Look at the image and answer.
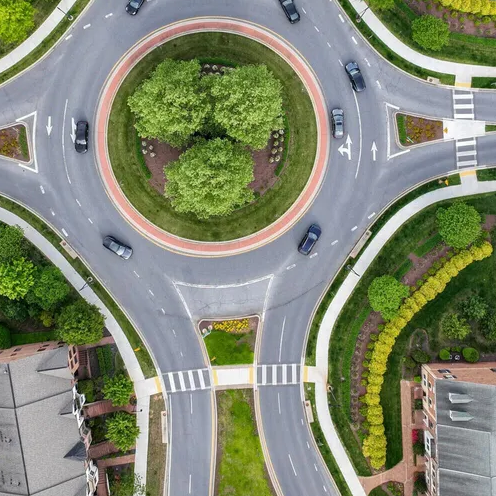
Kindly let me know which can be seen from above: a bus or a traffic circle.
traffic circle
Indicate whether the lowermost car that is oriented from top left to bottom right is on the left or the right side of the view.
left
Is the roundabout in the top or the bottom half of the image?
top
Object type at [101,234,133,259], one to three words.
car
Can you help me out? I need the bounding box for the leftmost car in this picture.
[73,119,90,153]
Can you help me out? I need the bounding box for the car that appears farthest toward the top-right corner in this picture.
[343,60,366,92]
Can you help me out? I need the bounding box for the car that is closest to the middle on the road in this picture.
[298,222,321,256]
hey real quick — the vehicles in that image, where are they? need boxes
[101,234,133,259]
[330,107,345,139]
[126,0,144,17]
[279,0,299,25]
[298,222,321,256]
[73,119,90,153]
[343,60,366,92]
